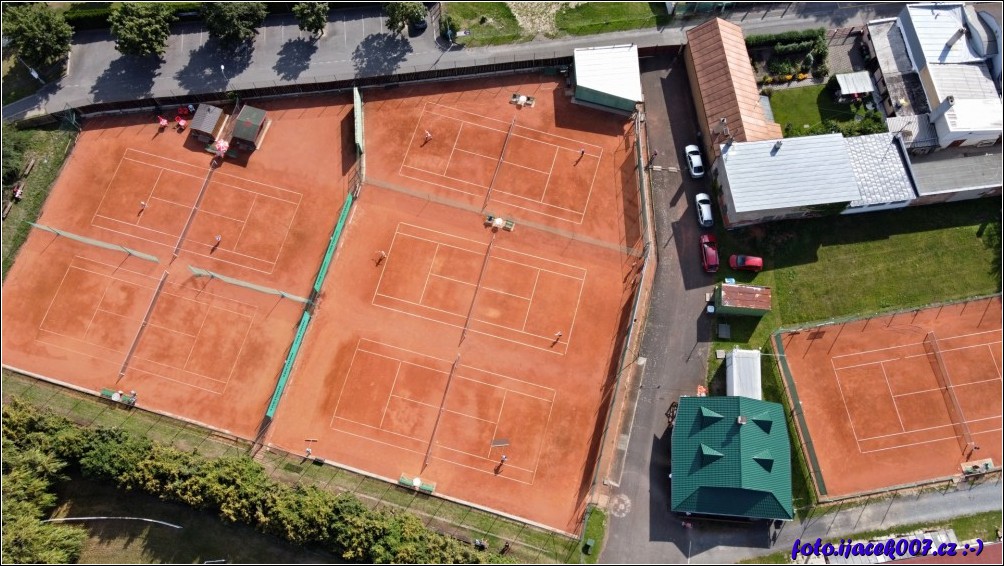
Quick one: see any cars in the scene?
Yes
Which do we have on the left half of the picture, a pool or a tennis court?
tennis court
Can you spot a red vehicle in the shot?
Yes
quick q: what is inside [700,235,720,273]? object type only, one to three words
car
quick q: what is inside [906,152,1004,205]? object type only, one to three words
shed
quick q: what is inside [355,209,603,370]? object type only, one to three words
tennis court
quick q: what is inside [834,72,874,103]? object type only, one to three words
gazebo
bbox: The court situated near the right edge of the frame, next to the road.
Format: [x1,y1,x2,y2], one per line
[816,318,1004,468]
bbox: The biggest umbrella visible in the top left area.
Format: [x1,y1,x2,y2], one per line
[211,139,225,154]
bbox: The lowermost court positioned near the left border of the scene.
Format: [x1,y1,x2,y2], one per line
[18,242,274,409]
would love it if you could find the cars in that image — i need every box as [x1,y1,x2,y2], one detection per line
[700,235,720,273]
[685,145,705,179]
[728,253,764,273]
[171,3,200,21]
[695,194,715,228]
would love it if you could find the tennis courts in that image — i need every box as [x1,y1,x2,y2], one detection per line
[383,89,619,237]
[18,242,274,409]
[75,136,318,287]
[816,318,1004,468]
[313,324,574,501]
[355,209,603,370]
